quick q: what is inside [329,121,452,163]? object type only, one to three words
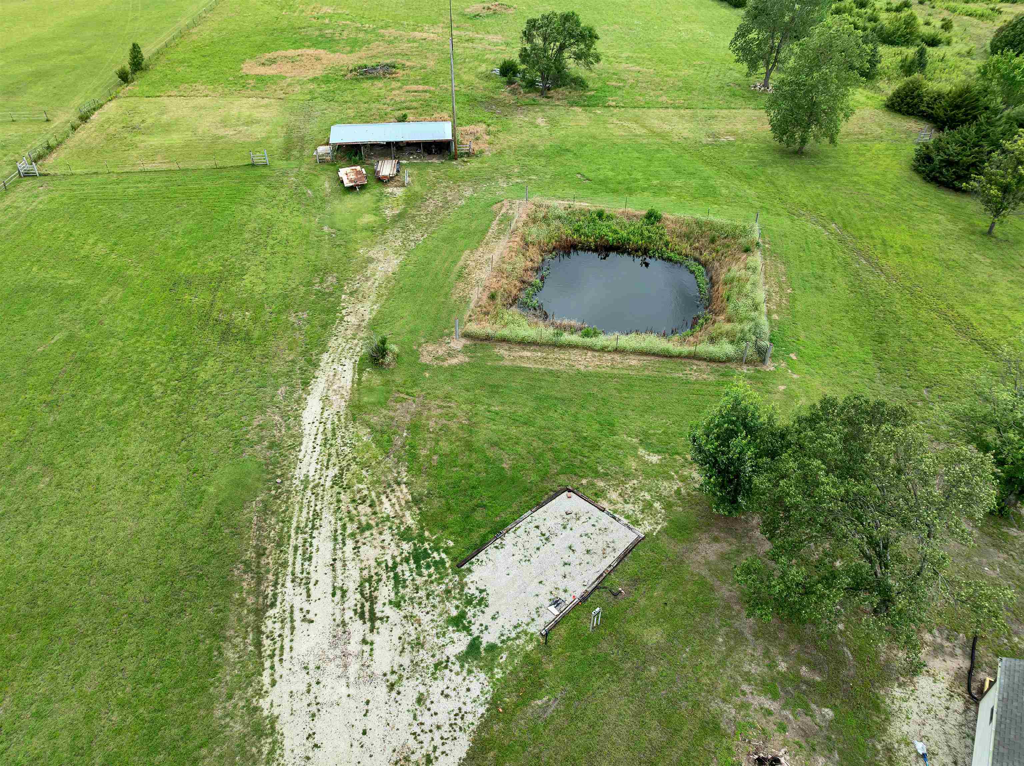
shed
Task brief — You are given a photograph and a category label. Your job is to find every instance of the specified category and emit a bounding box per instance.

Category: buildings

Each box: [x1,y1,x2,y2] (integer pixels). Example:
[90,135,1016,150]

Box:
[329,121,452,163]
[972,656,1024,766]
